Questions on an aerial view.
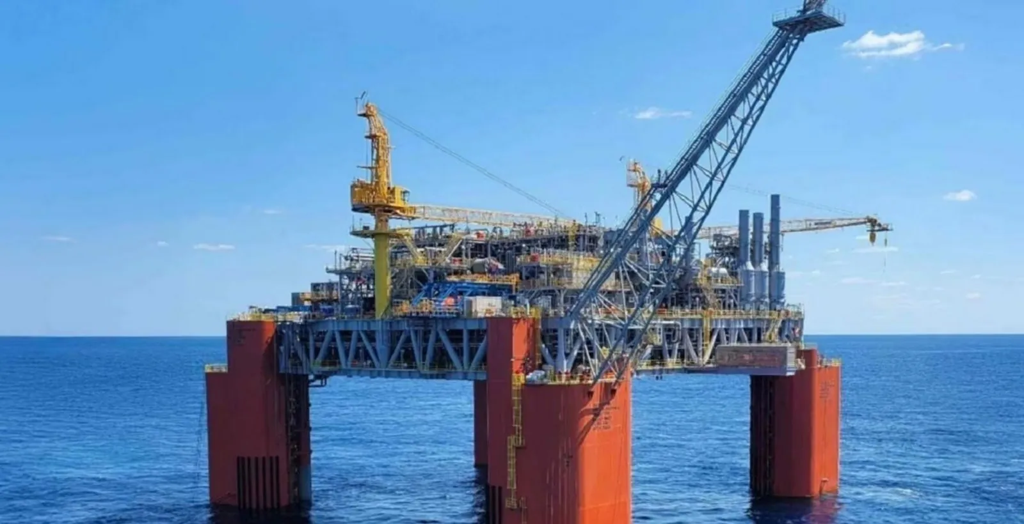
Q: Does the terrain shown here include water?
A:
Yes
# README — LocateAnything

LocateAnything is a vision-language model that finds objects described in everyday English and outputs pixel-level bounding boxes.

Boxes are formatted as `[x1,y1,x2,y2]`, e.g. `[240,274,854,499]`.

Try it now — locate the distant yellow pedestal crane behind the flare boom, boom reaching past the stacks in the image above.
[623,147,896,272]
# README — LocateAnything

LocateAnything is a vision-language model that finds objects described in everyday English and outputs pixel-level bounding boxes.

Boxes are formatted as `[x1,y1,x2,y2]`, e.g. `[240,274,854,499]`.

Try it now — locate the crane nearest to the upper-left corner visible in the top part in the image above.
[345,86,587,319]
